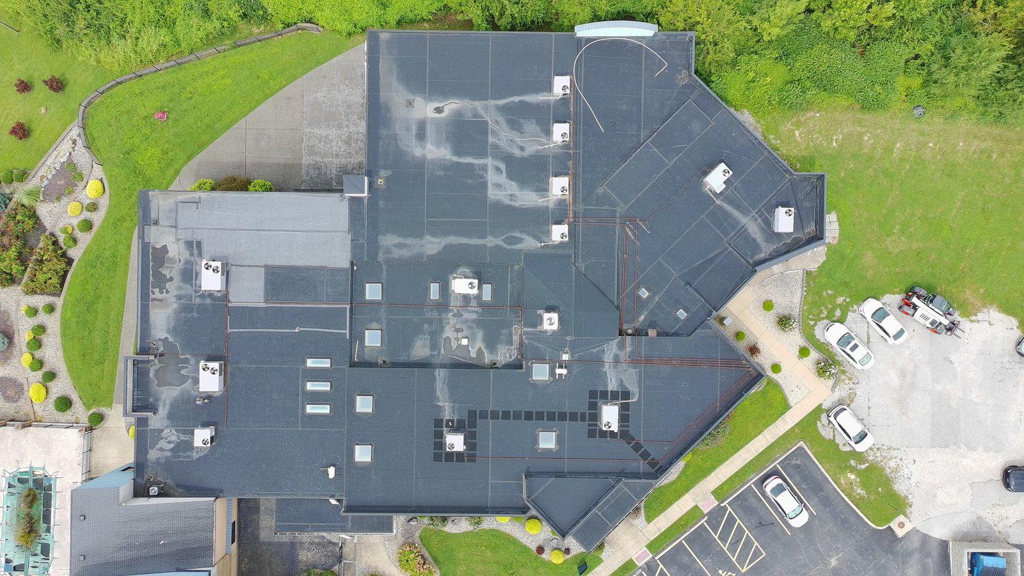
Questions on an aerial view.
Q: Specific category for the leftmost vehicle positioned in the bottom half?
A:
car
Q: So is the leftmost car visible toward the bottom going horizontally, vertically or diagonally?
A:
diagonally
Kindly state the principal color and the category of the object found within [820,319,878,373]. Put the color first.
white car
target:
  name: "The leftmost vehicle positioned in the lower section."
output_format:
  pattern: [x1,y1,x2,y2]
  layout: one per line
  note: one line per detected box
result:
[760,472,810,529]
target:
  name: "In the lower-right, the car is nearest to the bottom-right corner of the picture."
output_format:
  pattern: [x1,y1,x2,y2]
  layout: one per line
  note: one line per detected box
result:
[1000,464,1024,492]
